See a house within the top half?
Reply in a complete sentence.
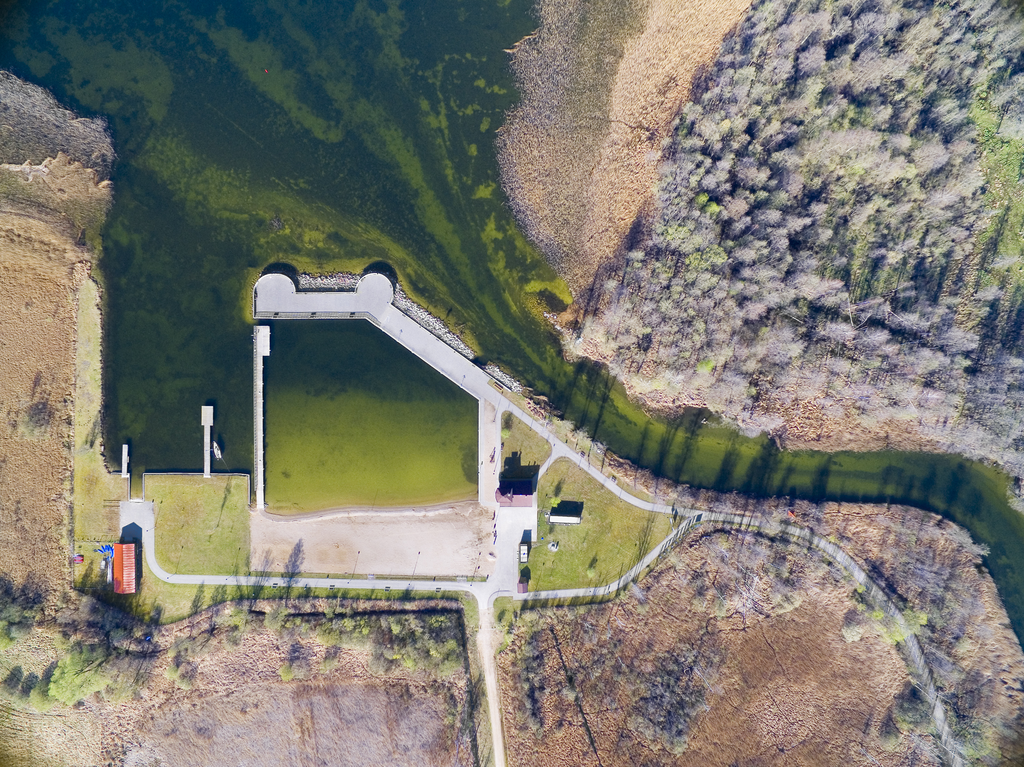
No, within the top half there is no house.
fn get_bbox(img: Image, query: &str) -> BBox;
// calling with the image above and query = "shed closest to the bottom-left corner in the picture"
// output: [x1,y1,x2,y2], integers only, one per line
[114,542,138,594]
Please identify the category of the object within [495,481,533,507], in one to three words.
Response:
house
